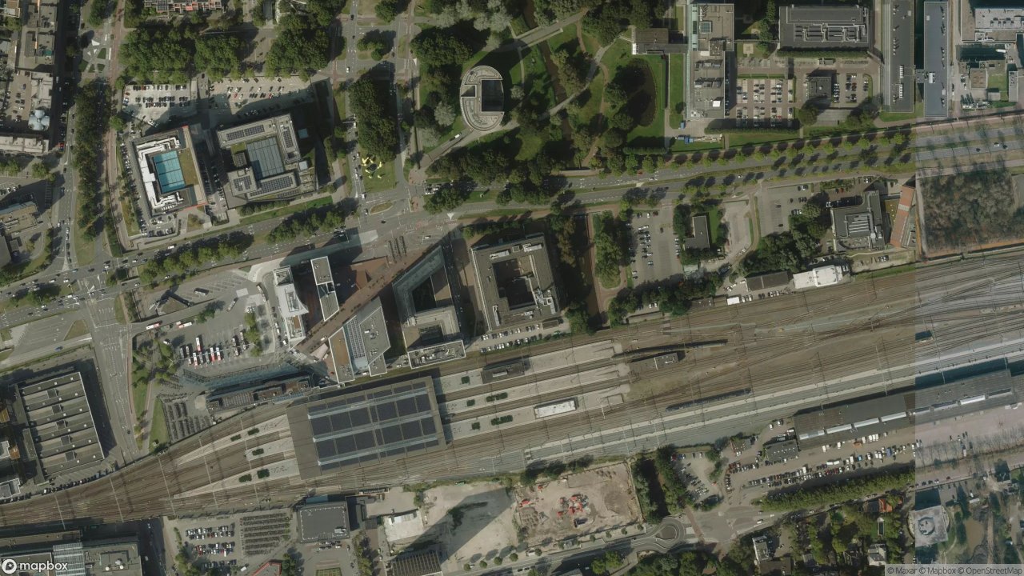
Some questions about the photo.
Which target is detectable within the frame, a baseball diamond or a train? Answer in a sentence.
The image shows a train.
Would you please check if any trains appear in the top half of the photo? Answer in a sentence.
No, in the top half of the photo there is no train.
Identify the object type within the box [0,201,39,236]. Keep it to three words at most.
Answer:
building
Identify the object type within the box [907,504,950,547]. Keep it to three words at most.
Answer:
building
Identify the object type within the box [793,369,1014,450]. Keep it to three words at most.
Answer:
shed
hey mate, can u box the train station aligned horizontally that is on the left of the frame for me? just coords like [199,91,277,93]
[177,340,630,499]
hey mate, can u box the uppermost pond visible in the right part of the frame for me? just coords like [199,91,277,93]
[618,58,659,126]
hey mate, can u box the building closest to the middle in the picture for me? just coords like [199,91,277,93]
[472,233,560,331]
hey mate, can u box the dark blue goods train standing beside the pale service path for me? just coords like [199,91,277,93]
[667,389,752,411]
